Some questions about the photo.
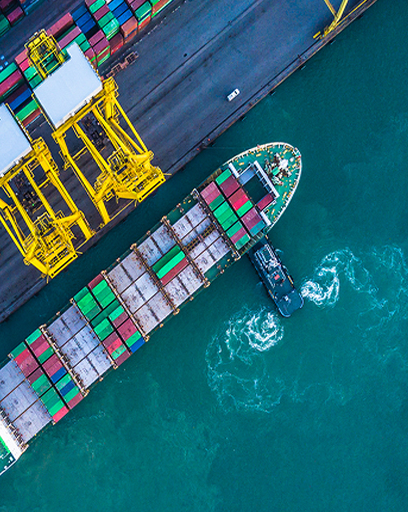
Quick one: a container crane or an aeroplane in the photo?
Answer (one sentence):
The one in the frame is a container crane.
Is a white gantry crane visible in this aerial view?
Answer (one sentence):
No, the picture doesn't show any white gantry crane.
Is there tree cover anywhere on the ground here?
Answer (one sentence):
No, there is no tree cover in the image.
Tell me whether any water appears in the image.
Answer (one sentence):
Yes, water shows up in the scene.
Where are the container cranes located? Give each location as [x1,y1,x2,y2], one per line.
[0,105,99,283]
[313,0,369,44]
[18,28,173,231]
